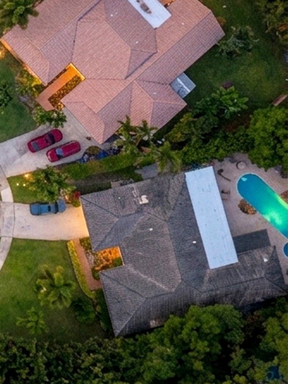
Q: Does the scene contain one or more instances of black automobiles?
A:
No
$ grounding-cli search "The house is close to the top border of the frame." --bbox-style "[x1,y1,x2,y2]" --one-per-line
[0,0,227,144]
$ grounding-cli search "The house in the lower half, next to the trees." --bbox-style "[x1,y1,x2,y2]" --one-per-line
[75,166,288,337]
